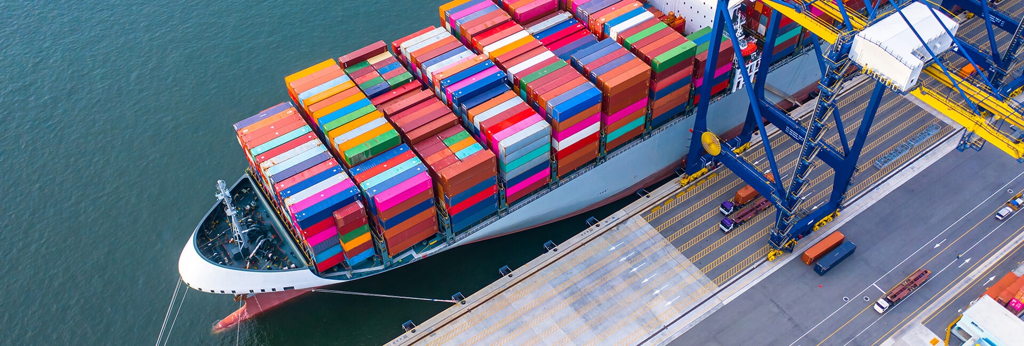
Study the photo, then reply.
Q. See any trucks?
Yes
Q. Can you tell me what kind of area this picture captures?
port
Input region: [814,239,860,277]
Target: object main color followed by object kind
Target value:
blue shipping container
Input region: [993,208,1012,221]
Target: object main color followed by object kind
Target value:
white vehicle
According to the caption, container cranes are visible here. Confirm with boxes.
[914,0,1024,114]
[677,0,1024,260]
